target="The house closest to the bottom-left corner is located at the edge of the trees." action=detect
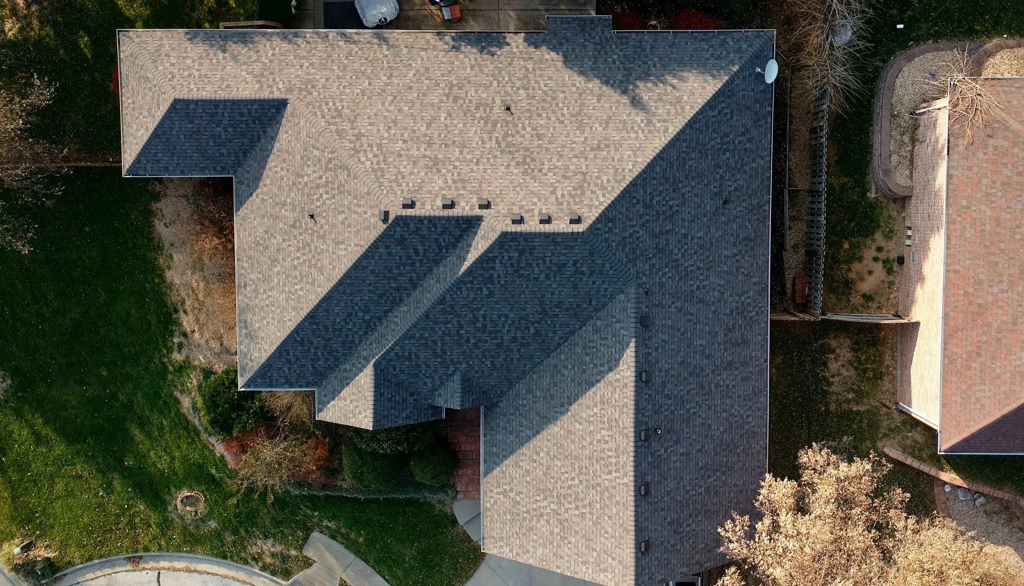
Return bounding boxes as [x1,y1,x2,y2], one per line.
[117,16,776,586]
